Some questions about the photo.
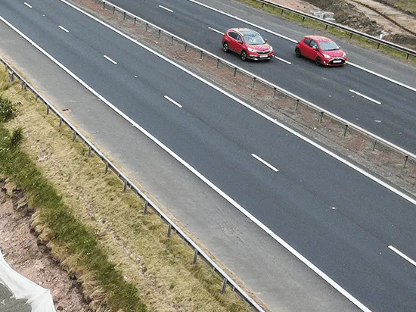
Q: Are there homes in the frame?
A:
No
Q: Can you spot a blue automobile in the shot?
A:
No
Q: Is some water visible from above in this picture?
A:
No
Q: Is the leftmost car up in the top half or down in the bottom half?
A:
top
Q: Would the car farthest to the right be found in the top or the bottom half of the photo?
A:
top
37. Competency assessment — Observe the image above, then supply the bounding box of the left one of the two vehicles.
[222,25,284,61]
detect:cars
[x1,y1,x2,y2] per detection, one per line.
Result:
[293,32,353,66]
[222,25,284,61]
